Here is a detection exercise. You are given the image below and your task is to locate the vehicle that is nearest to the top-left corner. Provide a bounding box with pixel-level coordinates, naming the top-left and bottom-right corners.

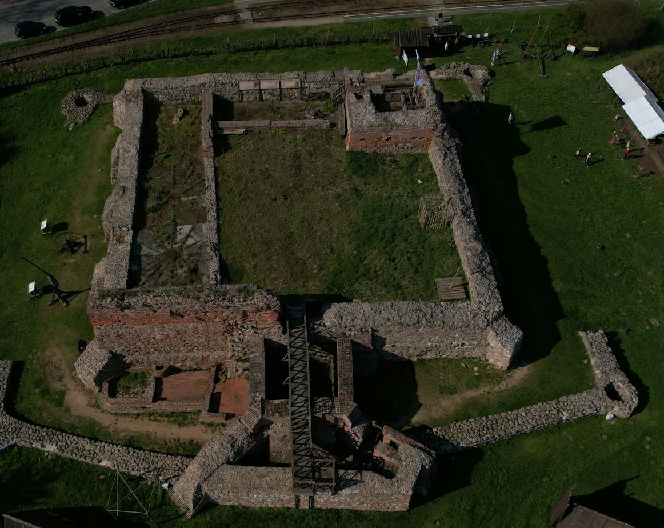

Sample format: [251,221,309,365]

[10,19,47,38]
